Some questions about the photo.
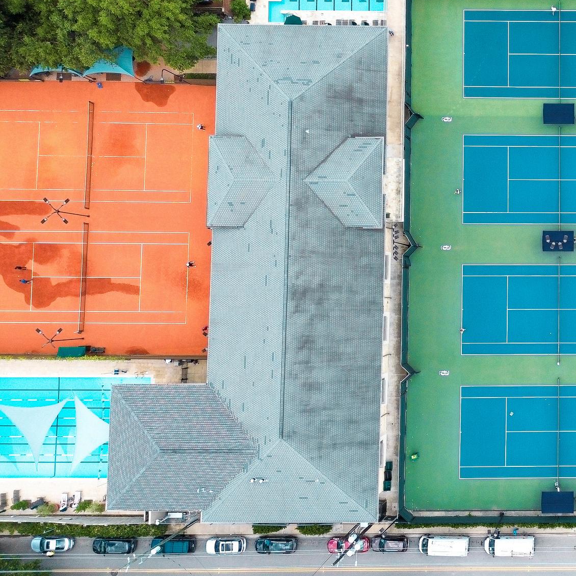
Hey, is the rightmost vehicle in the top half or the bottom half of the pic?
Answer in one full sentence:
Seen from above, the rightmost vehicle lies in the bottom half of the view.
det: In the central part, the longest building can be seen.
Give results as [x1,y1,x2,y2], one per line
[197,24,397,523]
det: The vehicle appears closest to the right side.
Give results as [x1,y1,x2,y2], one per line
[485,534,537,560]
